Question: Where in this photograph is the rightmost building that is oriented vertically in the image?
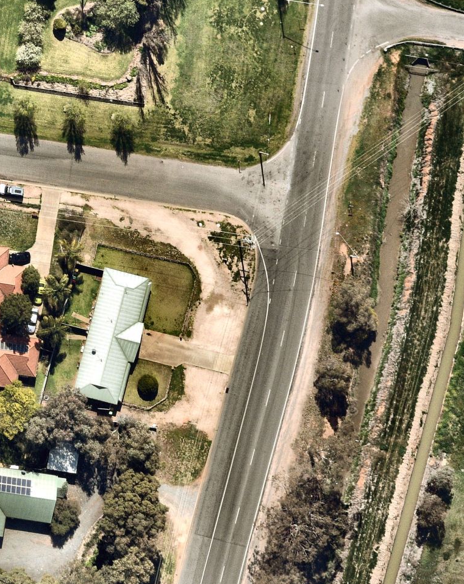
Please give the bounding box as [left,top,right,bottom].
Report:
[74,266,152,405]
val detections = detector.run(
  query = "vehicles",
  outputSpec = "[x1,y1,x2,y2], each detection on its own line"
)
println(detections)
[34,279,49,306]
[9,250,32,265]
[0,185,26,200]
[26,307,40,329]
